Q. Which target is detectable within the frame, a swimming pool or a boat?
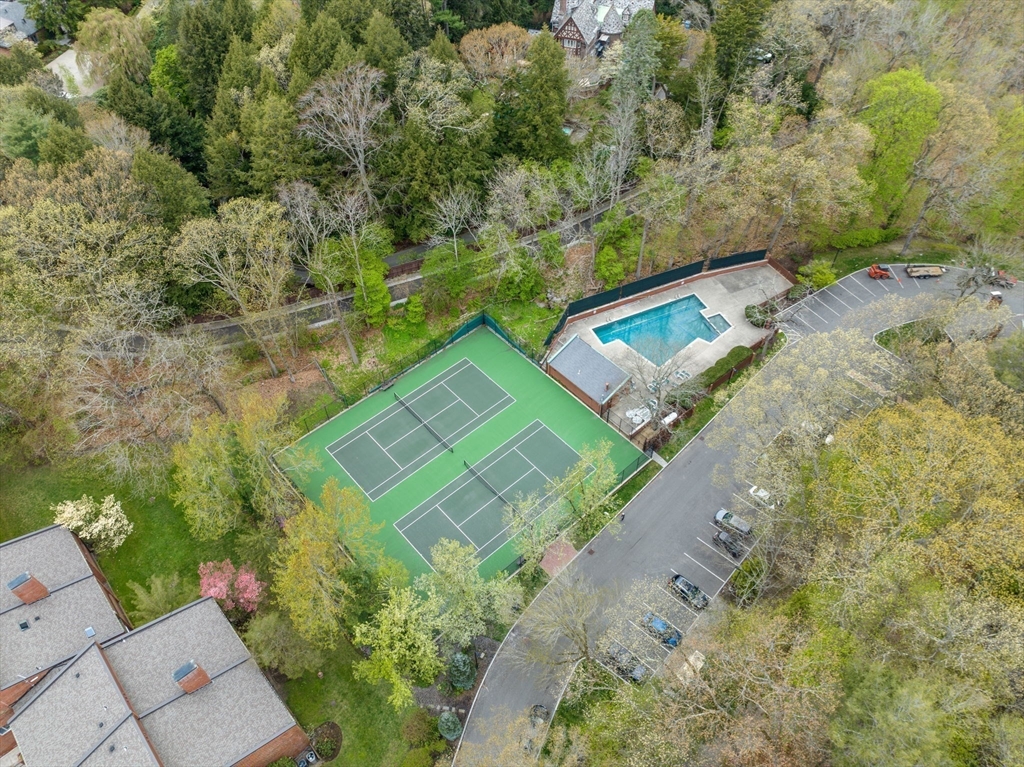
swimming pool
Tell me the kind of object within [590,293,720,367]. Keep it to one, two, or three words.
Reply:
swimming pool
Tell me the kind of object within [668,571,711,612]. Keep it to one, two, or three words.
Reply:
car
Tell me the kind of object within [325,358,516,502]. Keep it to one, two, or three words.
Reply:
tennis court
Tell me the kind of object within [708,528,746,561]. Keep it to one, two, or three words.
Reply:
car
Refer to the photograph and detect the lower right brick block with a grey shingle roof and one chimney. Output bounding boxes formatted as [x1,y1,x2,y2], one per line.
[99,599,310,767]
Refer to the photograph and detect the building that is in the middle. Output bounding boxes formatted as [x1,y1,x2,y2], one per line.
[544,335,635,413]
